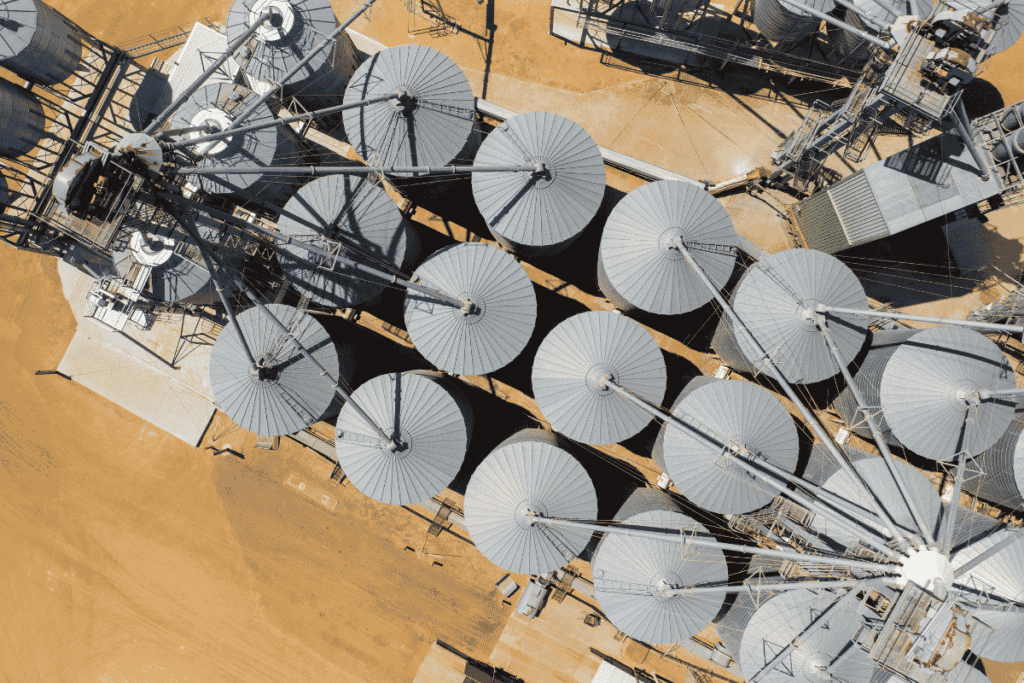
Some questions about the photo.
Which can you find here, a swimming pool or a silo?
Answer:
silo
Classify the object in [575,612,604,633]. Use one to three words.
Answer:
work vehicle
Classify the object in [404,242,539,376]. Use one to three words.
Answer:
silo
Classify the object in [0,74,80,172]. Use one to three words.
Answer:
silo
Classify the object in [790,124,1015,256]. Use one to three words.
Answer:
shed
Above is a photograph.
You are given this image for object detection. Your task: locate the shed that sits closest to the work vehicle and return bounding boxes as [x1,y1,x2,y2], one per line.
[586,645,665,683]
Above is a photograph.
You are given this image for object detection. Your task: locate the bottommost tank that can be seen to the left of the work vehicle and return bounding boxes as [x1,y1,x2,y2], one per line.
[516,571,563,619]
